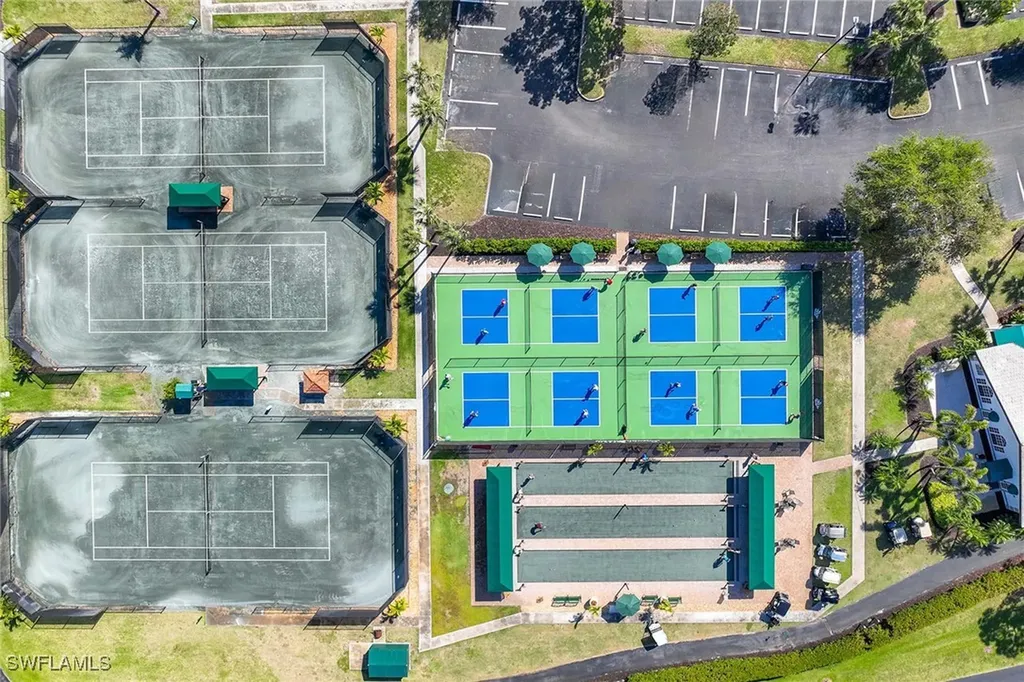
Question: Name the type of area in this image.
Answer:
sports ground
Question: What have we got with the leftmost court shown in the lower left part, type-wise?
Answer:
tennis court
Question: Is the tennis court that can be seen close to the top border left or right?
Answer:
left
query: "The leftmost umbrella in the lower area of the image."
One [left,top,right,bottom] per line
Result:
[615,591,641,617]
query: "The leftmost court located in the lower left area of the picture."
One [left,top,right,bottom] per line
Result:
[8,416,408,609]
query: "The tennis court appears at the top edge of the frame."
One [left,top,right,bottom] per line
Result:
[18,31,390,202]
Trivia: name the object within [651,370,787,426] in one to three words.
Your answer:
sports court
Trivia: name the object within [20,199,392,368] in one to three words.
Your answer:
tennis court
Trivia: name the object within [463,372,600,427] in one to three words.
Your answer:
sports court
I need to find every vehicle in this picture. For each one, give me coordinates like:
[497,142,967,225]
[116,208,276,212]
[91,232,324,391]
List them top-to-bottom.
[907,511,932,539]
[882,516,907,544]
[816,521,845,537]
[817,543,847,563]
[810,563,840,585]
[810,584,840,603]
[769,586,790,616]
[645,613,666,644]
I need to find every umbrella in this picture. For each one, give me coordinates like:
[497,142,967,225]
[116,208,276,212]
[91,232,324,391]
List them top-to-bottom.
[705,239,731,266]
[569,240,596,267]
[657,241,682,267]
[527,242,553,268]
[615,591,641,617]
